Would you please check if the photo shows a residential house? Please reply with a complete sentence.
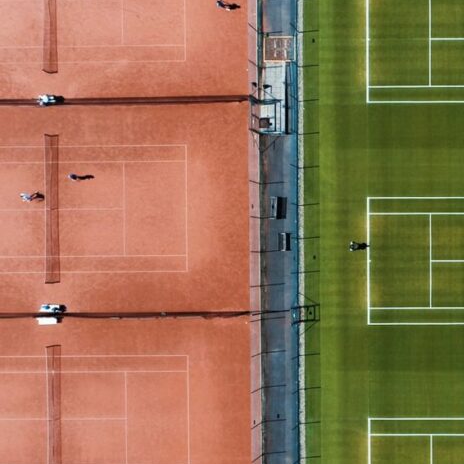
No, I find no residential house anywhere in the image.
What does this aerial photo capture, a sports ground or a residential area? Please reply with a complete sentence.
What you see here is a sports ground.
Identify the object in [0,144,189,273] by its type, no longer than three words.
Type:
tennis court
